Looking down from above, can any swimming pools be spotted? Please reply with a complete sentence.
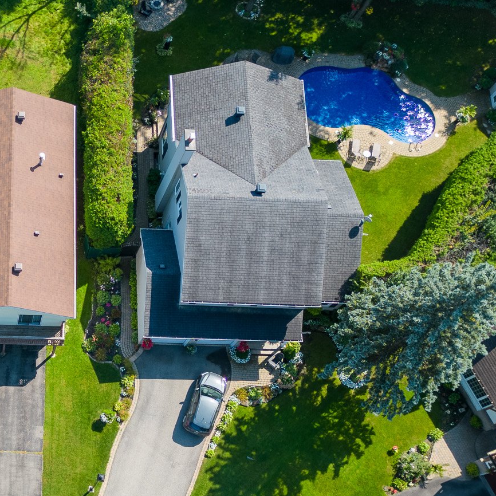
Yes, the frame does contain a swimming pool.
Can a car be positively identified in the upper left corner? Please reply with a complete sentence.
No, the scene shows no car in the upper left corner.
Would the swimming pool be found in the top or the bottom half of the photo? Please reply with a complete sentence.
The swimming pool is in the top half of the image.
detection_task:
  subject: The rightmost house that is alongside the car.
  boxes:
[139,61,362,352]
